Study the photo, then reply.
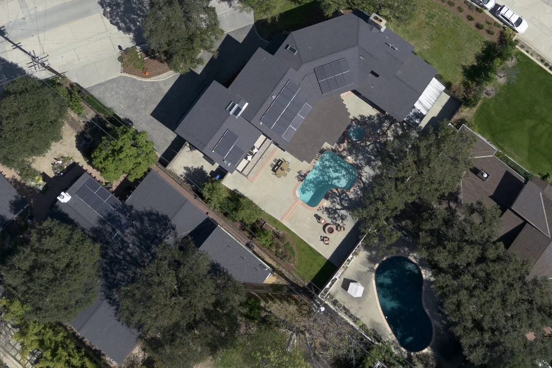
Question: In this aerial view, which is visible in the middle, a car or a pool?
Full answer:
The one visible in the middle is a pool.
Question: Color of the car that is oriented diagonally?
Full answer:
The car that is oriented diagonally is white.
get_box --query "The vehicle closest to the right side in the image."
[494,2,530,34]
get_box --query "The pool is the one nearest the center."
[292,147,361,210]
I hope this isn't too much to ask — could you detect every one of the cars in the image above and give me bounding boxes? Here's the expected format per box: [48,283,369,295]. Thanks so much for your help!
[472,0,498,12]
[494,2,530,34]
